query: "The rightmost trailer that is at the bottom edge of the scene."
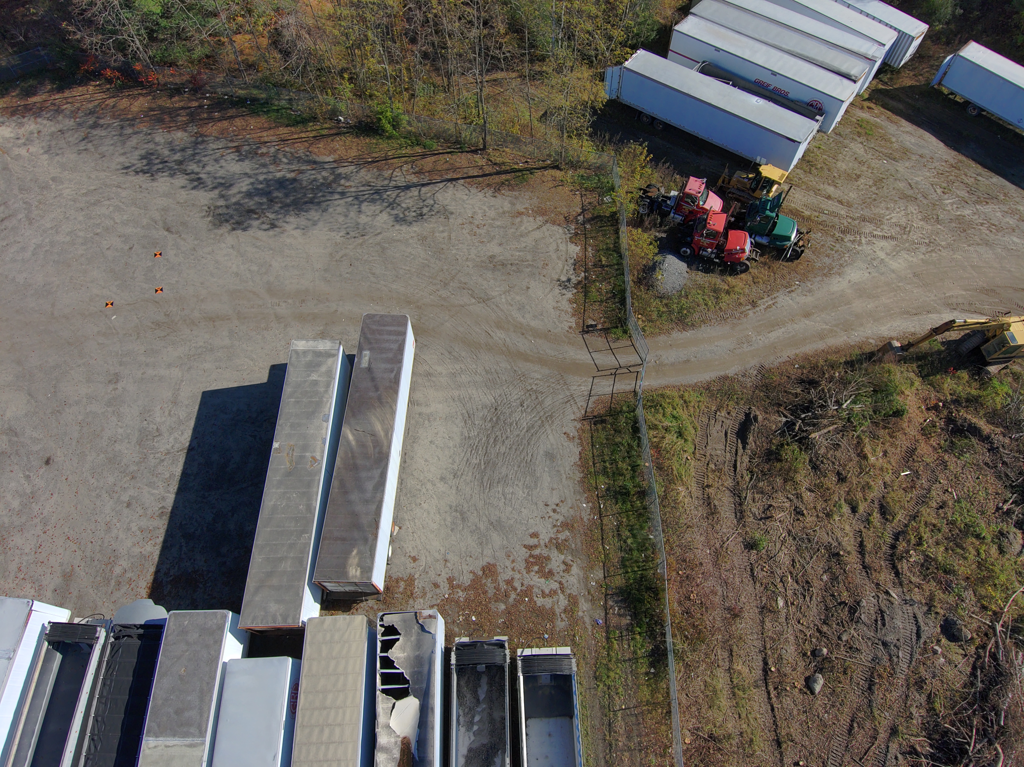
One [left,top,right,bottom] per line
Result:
[517,642,582,767]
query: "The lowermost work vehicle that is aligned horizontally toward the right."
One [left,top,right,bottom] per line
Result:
[881,317,1024,382]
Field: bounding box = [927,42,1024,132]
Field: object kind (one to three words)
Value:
trailer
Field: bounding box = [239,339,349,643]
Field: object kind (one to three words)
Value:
trailer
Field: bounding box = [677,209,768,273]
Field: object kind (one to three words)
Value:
truck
